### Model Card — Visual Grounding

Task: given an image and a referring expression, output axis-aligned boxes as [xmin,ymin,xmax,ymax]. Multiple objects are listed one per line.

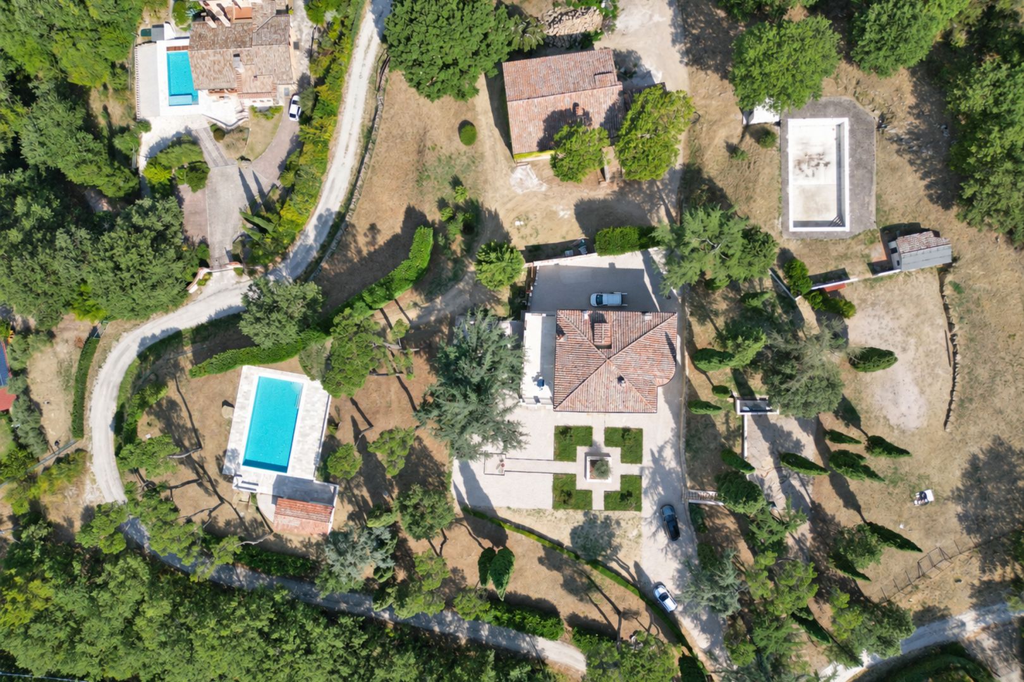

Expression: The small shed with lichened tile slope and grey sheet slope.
[886,231,952,270]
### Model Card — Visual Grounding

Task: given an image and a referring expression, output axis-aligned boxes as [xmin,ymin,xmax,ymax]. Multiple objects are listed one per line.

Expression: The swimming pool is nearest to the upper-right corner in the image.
[780,95,877,239]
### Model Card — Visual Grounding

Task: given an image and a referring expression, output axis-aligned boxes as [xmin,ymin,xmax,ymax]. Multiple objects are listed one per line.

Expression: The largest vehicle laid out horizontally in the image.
[590,292,625,307]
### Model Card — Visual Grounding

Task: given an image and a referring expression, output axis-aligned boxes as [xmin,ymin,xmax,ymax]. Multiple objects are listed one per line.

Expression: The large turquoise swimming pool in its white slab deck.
[223,365,332,481]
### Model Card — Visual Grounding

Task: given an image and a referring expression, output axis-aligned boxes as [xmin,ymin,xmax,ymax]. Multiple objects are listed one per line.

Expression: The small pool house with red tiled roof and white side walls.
[233,476,342,535]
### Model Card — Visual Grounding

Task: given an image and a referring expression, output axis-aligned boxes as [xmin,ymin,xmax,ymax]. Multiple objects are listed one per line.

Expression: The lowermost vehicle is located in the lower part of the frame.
[653,583,679,614]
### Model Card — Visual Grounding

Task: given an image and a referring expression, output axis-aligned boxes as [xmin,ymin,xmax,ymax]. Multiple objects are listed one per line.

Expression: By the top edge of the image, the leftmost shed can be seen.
[152,24,171,46]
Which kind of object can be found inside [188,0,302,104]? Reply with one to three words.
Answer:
house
